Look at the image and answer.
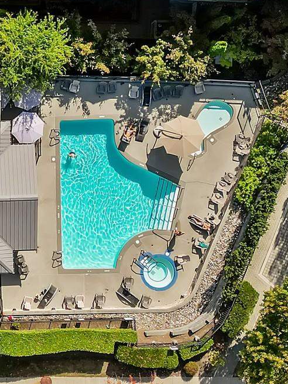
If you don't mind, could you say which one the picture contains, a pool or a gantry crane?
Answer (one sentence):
The image shows a pool.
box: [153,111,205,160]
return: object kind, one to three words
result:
umbrella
